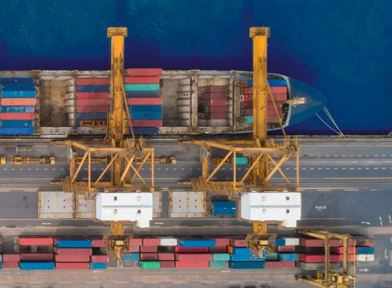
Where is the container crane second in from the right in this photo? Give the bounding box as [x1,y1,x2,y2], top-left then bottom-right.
[178,17,303,265]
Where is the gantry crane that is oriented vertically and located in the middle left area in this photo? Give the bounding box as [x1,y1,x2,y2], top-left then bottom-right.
[51,17,156,265]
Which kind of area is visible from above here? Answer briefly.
port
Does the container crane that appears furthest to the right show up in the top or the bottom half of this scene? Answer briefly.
bottom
